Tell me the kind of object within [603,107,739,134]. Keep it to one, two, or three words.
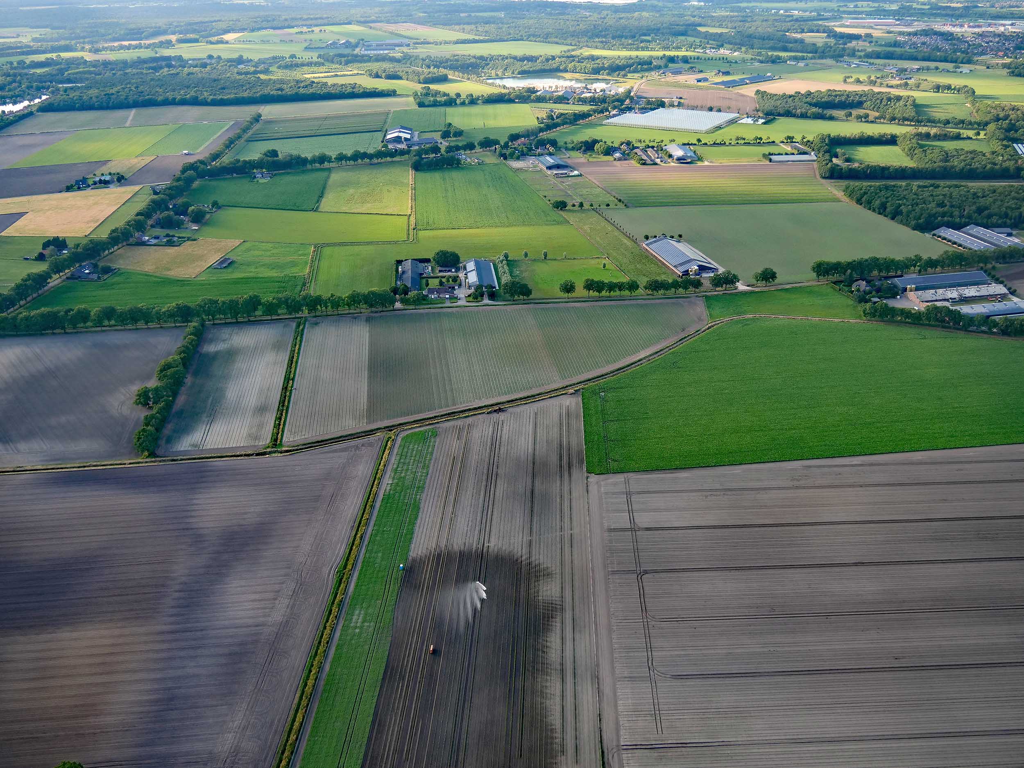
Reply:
greenhouse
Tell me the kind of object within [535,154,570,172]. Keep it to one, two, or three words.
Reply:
barn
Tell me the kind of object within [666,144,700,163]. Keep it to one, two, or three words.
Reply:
barn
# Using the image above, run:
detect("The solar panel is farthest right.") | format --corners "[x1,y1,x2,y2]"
[899,271,989,286]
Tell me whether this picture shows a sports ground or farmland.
farmland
